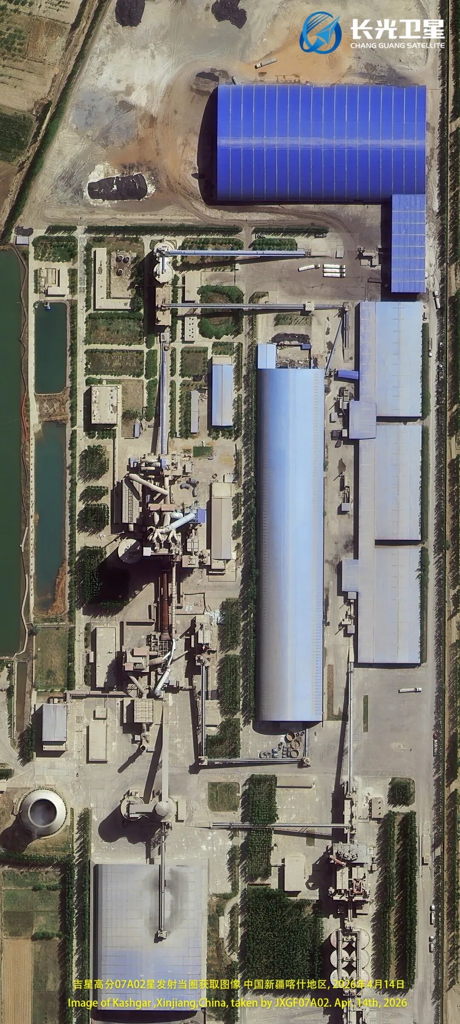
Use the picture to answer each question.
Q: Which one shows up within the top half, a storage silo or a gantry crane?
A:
storage silo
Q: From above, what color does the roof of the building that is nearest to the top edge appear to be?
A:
blue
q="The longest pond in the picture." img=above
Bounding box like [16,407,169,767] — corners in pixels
[35,423,66,612]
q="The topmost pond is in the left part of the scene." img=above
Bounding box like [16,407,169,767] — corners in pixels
[34,302,67,393]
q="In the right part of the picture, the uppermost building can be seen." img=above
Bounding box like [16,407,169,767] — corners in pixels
[218,85,426,201]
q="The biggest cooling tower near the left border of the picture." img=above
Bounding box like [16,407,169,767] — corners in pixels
[12,787,69,838]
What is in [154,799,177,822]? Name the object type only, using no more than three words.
silo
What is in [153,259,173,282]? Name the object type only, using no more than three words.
silo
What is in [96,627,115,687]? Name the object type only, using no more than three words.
building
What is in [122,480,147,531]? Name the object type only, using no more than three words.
house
